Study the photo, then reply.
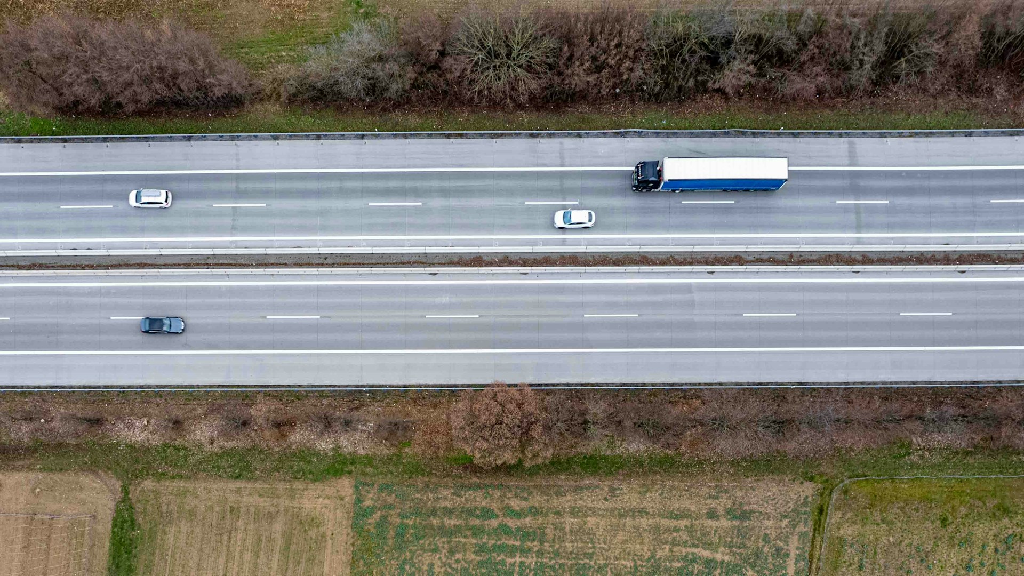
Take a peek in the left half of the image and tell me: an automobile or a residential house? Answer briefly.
automobile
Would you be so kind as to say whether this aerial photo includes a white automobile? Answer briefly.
Yes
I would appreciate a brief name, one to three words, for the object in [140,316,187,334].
car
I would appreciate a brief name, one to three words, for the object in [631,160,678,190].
truck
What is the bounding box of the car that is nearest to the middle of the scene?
[554,210,595,228]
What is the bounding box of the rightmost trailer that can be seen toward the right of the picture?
[658,158,789,190]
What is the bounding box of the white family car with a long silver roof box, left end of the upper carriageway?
[130,189,173,208]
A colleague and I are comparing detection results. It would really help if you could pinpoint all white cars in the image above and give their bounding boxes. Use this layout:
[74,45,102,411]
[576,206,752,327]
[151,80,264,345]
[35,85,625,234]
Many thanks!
[130,189,173,208]
[554,210,595,228]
